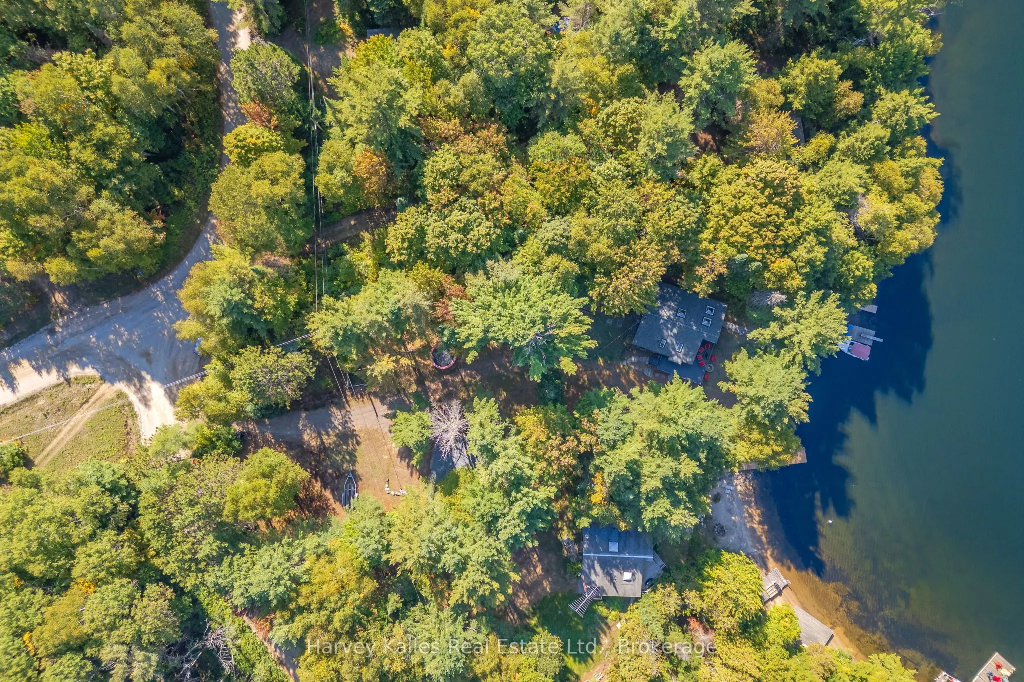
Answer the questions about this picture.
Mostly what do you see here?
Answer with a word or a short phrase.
trees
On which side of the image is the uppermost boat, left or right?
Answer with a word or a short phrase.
right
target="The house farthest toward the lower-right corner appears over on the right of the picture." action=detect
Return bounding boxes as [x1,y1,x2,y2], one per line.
[577,524,667,599]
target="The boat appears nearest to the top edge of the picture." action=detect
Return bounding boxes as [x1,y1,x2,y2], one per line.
[831,339,874,360]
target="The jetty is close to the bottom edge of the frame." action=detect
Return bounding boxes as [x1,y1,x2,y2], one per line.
[968,648,1016,682]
